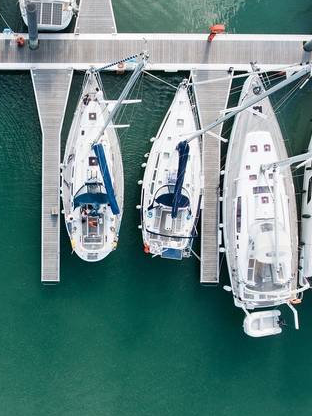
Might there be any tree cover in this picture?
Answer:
No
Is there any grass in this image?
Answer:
No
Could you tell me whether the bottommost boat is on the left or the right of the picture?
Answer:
right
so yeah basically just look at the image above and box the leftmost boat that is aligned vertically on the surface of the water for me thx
[63,29,154,263]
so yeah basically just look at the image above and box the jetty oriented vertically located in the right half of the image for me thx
[189,70,233,285]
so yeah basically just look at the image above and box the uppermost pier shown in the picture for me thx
[75,0,117,34]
